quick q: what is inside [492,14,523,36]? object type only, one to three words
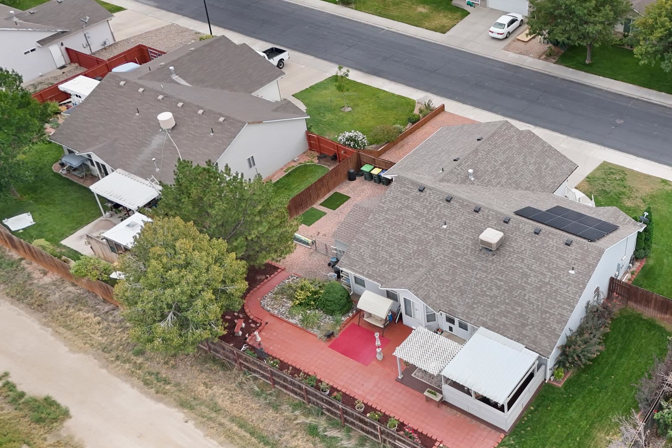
car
